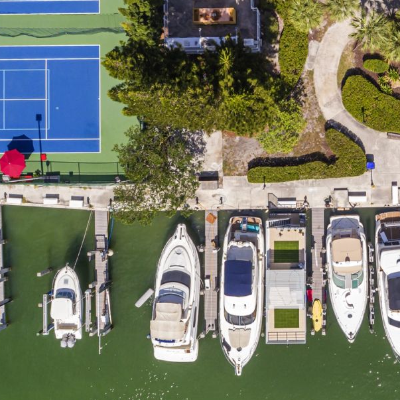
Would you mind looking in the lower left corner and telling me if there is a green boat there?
No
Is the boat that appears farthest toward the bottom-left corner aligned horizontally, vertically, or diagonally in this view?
vertically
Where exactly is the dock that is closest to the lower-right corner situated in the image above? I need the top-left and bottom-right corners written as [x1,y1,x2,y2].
[312,209,324,332]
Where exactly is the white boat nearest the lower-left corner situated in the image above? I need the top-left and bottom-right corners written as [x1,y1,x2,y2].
[51,263,87,345]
